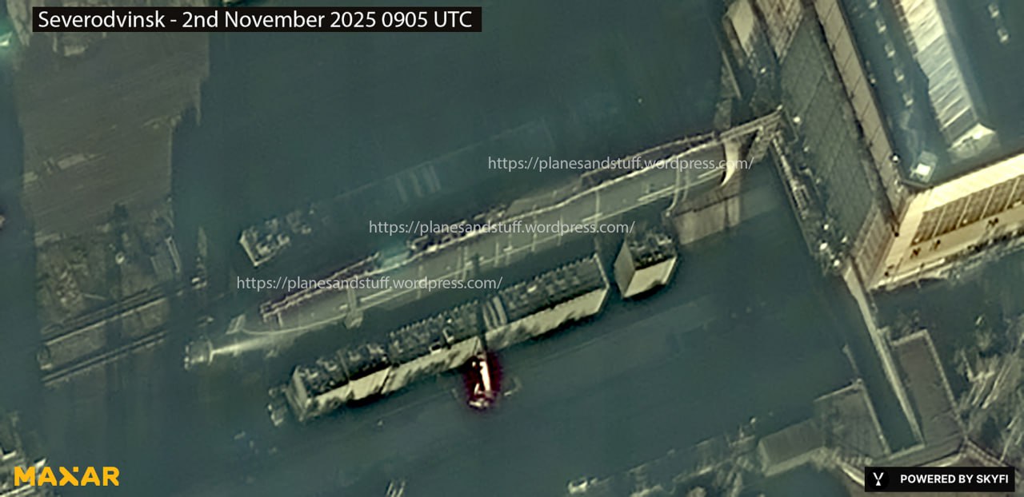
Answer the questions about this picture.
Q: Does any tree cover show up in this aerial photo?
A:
No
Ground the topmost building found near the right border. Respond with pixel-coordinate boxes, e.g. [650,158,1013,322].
[752,0,1024,291]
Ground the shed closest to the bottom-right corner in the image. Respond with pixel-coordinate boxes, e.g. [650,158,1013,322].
[756,417,831,475]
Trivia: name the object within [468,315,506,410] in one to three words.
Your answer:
boat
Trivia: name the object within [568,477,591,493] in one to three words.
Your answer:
boat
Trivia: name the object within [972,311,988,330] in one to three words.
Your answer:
work vehicle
